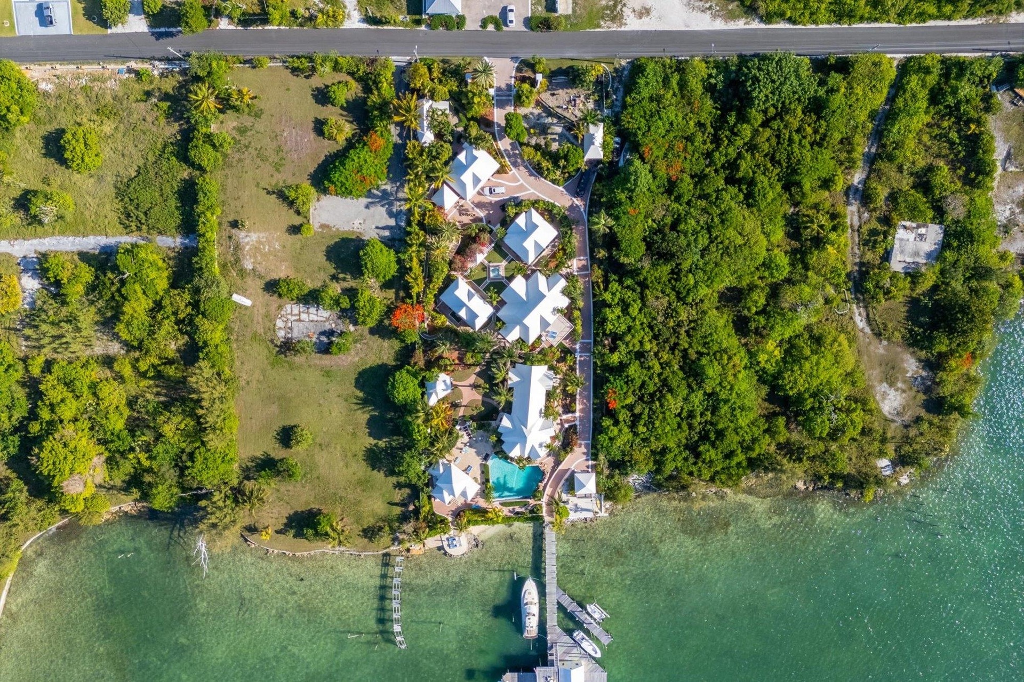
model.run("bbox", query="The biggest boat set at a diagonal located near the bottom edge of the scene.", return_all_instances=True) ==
[574,632,601,659]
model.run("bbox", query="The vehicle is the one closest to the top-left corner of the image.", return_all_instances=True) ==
[43,2,58,27]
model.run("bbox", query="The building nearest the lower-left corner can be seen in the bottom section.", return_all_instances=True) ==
[431,460,480,506]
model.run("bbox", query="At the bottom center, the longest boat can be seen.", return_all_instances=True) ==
[522,578,539,638]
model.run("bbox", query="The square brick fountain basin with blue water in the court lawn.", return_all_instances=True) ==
[487,263,505,281]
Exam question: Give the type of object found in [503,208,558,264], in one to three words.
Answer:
house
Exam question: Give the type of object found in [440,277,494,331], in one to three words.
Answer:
house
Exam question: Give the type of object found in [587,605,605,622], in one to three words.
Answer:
boat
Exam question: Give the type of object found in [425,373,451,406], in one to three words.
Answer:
building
